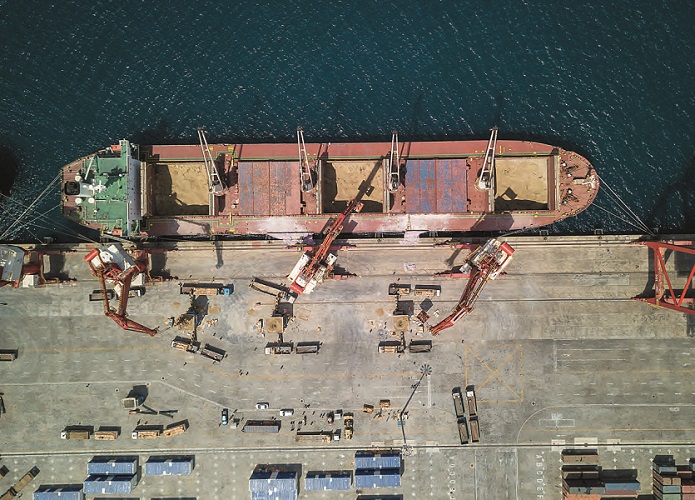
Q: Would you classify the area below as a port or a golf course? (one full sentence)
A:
What you see here is a port.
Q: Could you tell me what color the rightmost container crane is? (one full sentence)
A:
In this view, the rightmost container crane is red.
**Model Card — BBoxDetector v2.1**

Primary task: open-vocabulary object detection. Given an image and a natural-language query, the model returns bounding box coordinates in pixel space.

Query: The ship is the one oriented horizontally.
[60,124,601,247]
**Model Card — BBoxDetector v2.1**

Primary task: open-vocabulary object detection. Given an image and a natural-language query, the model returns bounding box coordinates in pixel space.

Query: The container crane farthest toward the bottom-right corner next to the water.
[629,242,695,315]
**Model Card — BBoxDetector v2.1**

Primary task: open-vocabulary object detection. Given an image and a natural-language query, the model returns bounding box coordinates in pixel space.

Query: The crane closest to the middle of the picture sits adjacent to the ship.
[285,198,362,299]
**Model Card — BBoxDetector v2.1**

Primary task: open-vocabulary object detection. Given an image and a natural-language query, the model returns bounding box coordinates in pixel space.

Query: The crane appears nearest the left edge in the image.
[0,239,74,293]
